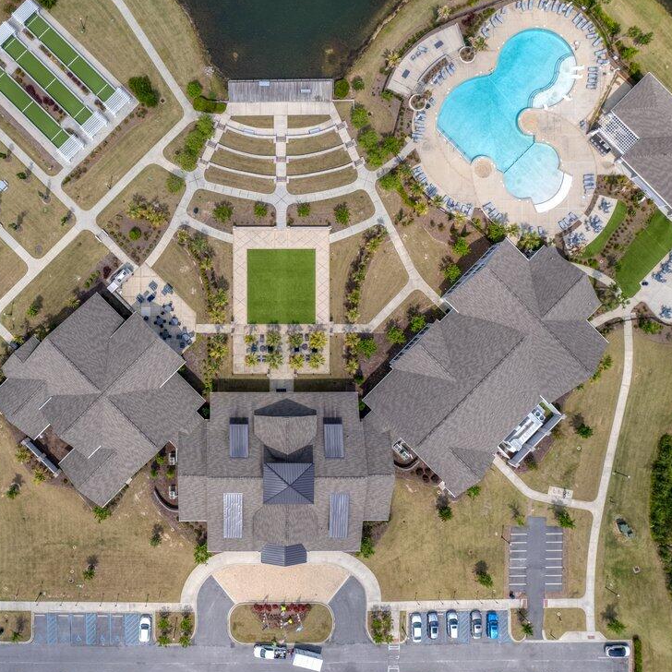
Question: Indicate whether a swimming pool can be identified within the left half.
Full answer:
No, the scene shows no swimming pool within the left half.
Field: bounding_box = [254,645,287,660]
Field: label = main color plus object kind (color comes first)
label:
white vehicle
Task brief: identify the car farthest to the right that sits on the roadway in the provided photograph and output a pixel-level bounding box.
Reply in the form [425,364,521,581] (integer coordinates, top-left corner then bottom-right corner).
[604,643,629,657]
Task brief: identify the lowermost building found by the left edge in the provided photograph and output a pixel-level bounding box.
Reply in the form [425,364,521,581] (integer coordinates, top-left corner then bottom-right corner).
[0,292,206,508]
